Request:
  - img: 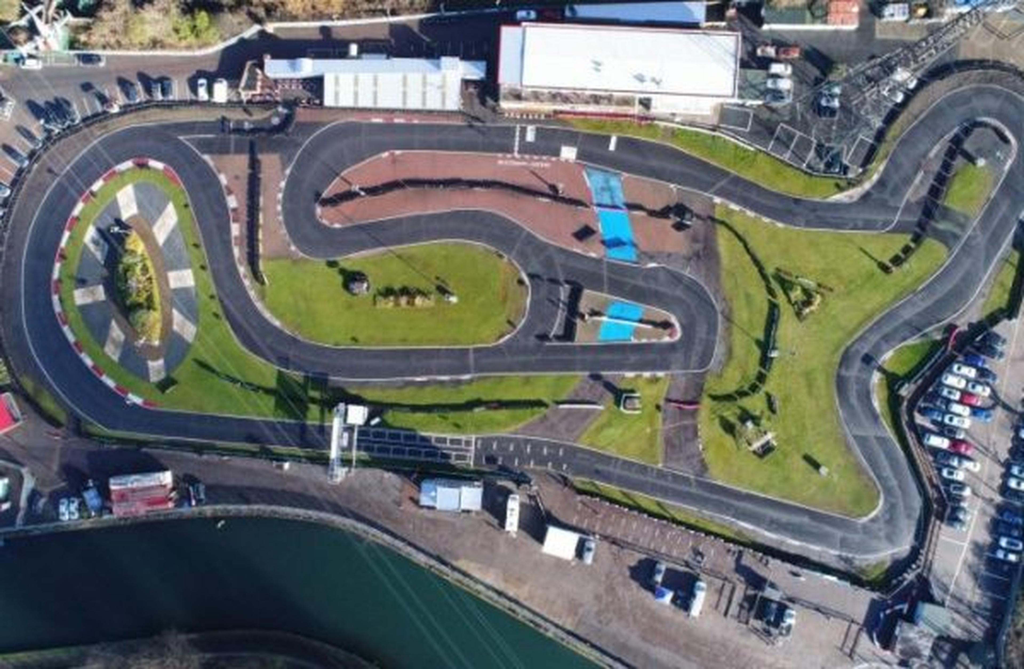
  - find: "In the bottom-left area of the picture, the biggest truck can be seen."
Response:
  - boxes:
[74,480,101,520]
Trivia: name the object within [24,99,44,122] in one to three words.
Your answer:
car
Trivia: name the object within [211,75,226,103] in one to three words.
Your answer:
vehicle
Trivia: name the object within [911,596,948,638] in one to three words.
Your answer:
shed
